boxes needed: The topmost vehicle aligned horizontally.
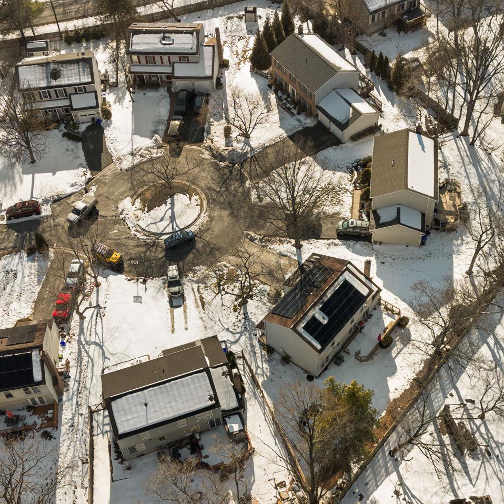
[6,199,41,219]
